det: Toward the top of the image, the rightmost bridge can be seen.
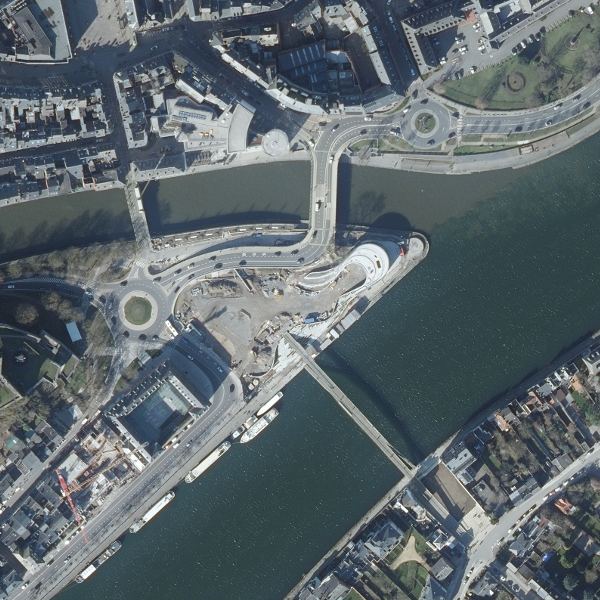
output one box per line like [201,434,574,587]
[309,156,338,228]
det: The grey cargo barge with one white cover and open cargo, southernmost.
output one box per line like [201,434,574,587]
[76,543,122,583]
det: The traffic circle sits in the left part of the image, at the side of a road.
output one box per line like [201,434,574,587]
[105,278,172,343]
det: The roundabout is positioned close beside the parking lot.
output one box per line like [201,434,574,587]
[400,98,450,148]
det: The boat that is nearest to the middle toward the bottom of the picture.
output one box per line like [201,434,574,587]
[256,391,284,415]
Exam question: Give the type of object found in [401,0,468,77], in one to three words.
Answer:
building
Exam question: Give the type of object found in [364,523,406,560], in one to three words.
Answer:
house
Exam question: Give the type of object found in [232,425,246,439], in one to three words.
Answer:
boat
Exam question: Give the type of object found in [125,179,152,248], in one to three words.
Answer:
bridge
